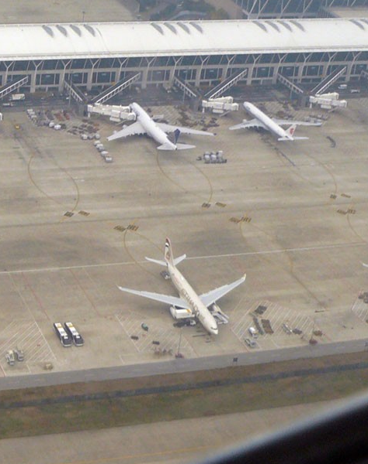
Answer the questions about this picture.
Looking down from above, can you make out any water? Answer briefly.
No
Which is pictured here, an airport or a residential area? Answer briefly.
airport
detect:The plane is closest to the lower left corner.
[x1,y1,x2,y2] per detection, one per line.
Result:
[110,234,246,332]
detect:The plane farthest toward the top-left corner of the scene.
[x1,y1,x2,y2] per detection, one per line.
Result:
[102,102,216,149]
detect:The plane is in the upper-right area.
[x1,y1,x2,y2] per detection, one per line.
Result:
[227,103,326,142]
